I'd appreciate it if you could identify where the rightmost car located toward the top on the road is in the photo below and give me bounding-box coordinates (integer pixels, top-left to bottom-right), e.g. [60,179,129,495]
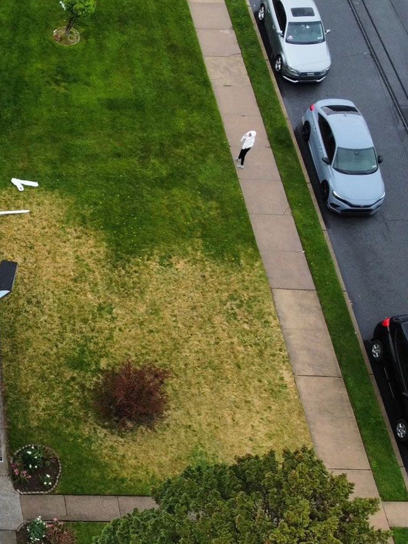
[300,99,386,216]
